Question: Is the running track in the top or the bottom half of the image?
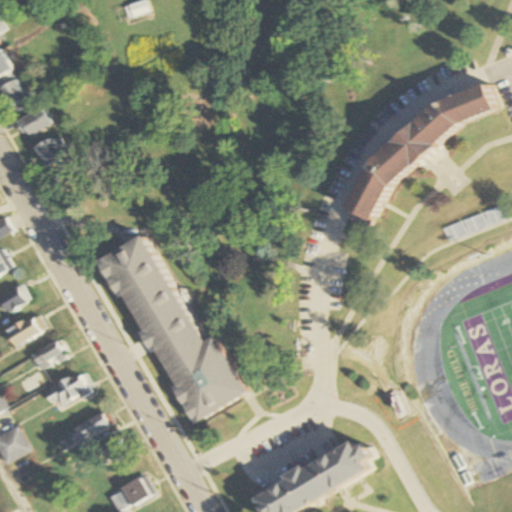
bottom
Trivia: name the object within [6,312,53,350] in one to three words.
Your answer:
house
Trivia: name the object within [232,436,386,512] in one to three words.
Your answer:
building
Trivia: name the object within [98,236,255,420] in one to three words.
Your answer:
building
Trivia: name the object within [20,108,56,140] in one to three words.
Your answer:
house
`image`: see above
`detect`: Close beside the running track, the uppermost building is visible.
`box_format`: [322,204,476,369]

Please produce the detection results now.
[344,83,498,224]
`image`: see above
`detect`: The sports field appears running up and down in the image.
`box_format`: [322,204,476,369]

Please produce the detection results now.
[440,278,512,440]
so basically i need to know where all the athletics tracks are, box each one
[414,253,512,481]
